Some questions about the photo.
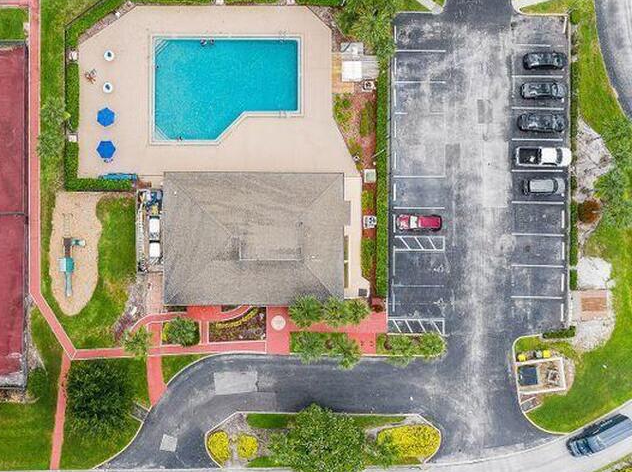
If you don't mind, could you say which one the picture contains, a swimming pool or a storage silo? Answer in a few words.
swimming pool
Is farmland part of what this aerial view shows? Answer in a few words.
No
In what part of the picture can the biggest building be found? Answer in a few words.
center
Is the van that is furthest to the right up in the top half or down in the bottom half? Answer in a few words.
bottom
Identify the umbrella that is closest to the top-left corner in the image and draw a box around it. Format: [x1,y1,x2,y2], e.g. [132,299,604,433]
[97,107,115,127]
